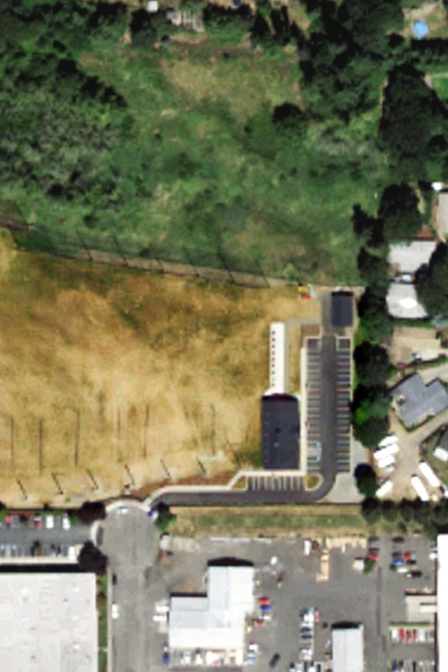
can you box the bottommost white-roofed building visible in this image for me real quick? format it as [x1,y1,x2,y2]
[332,628,364,672]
